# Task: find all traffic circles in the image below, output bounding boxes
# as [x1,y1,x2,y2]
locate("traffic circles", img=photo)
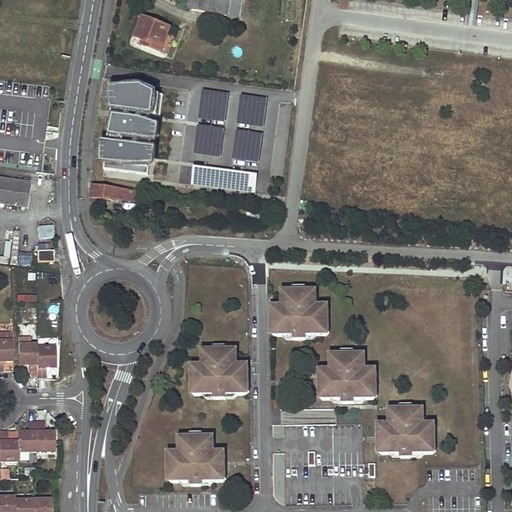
[66,259,170,363]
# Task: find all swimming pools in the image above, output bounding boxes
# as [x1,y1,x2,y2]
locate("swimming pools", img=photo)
[232,46,243,59]
[46,304,60,315]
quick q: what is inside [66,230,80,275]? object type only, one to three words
vehicle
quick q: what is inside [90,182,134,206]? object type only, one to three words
house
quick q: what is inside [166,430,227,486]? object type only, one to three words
building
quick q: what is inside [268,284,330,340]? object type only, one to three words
building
